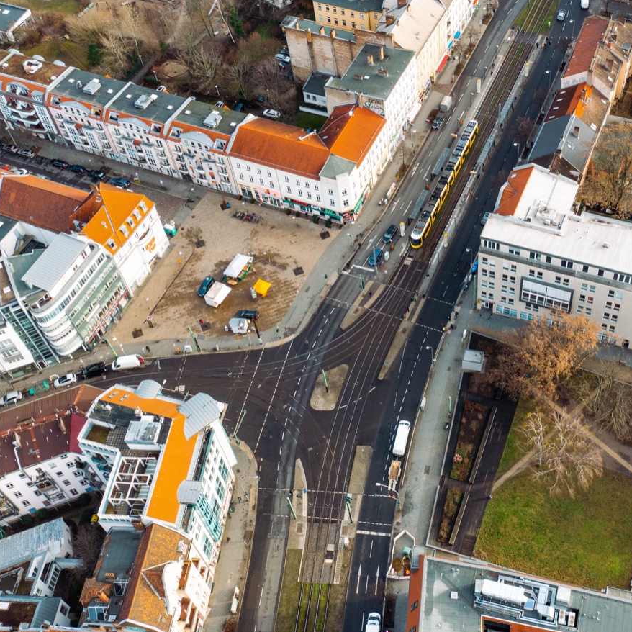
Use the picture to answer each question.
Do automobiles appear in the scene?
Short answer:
Yes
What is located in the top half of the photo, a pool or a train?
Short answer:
train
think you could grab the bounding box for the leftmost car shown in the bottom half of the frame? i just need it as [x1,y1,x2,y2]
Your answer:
[0,387,22,406]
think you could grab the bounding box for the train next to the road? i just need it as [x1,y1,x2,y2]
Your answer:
[411,121,476,243]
